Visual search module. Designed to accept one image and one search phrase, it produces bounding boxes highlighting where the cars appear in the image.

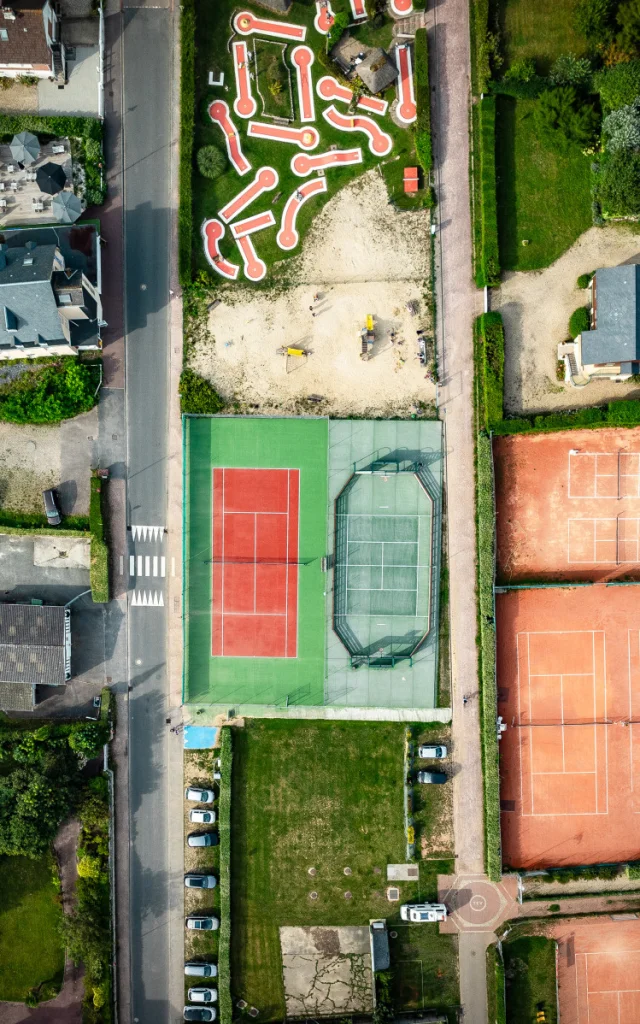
[418,742,447,759]
[184,958,218,978]
[417,768,448,785]
[185,784,216,803]
[183,1001,217,1021]
[43,489,64,526]
[187,983,218,1002]
[188,806,217,824]
[185,912,220,932]
[187,829,219,847]
[184,871,217,890]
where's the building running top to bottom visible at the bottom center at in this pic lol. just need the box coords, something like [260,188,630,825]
[371,917,389,1018]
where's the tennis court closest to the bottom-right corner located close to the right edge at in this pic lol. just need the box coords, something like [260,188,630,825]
[557,915,640,1024]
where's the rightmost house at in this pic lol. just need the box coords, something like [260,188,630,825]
[557,261,640,384]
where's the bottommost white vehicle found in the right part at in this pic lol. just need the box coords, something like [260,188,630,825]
[400,900,448,921]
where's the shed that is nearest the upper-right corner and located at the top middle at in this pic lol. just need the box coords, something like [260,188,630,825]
[356,48,399,96]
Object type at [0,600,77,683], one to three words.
building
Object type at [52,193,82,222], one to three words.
umbrella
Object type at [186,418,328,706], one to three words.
tennis court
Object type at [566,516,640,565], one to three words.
tennis court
